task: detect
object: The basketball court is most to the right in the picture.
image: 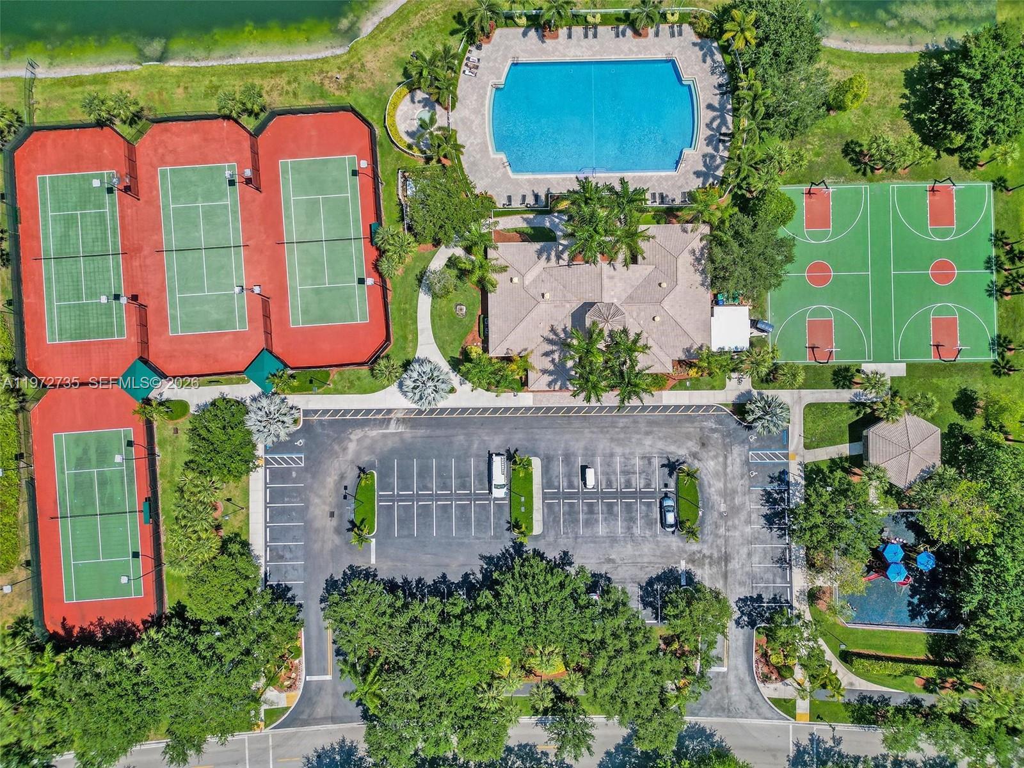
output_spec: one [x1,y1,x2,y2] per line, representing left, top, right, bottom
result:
[878,181,998,363]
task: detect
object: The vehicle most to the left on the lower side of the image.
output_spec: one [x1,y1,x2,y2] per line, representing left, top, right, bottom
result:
[490,455,508,499]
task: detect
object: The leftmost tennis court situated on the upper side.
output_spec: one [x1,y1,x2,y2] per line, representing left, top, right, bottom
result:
[15,127,149,387]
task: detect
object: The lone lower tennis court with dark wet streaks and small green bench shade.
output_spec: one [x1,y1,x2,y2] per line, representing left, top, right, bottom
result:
[31,385,167,634]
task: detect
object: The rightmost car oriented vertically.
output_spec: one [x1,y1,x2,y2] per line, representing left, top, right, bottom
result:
[660,497,676,531]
